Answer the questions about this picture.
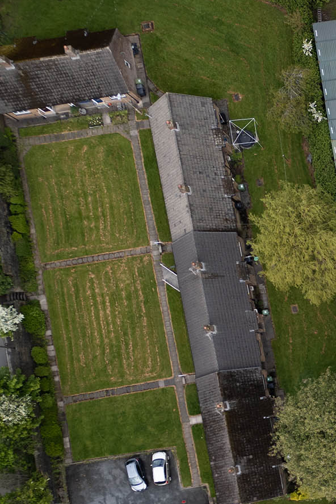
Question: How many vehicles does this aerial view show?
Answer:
2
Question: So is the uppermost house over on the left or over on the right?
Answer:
left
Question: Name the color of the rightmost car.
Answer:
white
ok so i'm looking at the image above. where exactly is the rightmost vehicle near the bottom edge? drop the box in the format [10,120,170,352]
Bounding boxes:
[151,452,171,485]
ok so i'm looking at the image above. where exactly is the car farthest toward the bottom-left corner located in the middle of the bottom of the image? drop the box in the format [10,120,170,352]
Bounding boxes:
[124,457,150,490]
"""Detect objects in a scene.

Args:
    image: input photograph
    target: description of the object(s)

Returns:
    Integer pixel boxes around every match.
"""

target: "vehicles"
[124,457,150,490]
[151,452,171,485]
